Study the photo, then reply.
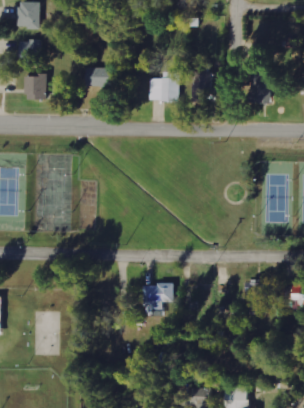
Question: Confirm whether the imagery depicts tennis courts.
Yes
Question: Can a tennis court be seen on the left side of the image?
Yes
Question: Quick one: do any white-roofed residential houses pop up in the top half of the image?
Yes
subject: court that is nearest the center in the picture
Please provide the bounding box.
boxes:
[80,181,96,230]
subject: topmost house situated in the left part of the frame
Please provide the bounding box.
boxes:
[17,2,42,29]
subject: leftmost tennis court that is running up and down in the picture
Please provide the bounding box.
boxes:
[0,153,26,230]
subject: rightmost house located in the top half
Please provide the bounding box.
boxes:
[252,82,274,105]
